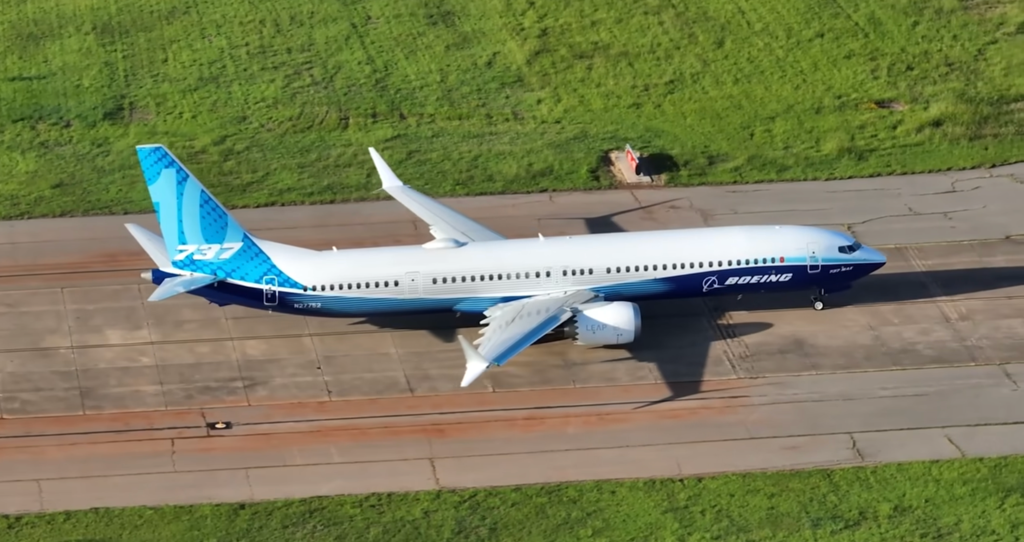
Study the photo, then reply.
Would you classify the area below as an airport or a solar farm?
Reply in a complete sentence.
It's an airport.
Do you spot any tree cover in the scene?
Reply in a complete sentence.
No, tree cover can't be seen anywhere here.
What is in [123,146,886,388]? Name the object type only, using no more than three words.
airplane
